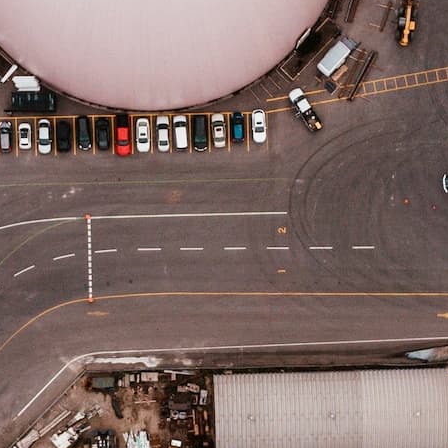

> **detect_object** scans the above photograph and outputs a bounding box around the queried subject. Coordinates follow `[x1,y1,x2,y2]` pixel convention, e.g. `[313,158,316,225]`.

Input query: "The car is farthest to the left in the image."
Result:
[0,121,14,153]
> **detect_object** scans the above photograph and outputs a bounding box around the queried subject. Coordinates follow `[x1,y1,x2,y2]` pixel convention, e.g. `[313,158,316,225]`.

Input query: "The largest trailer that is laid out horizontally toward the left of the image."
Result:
[3,89,54,111]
